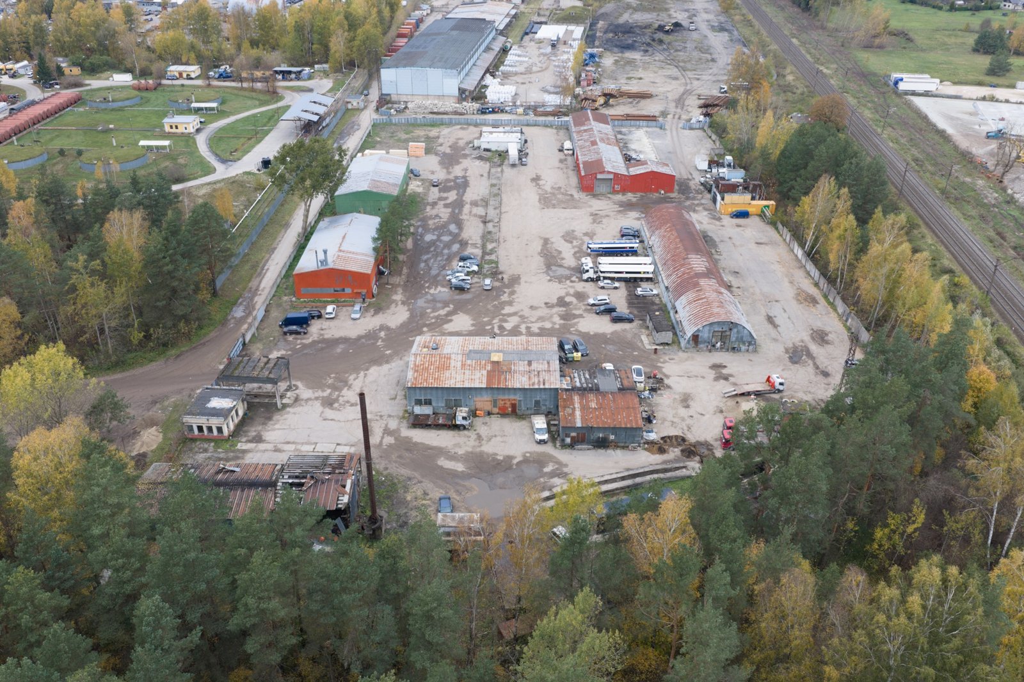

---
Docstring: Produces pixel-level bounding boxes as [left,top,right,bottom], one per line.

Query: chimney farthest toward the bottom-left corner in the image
[352,391,393,547]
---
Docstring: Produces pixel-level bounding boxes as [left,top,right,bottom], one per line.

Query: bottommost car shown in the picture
[437,492,452,509]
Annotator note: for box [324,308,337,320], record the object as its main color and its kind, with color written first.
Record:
white vehicle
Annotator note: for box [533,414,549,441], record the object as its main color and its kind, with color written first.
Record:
white vehicle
